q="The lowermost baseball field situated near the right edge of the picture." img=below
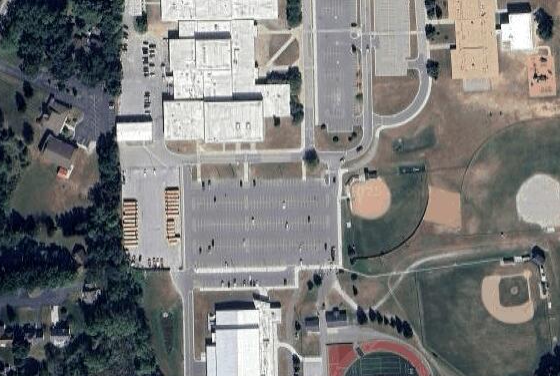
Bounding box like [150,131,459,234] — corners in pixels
[482,269,534,324]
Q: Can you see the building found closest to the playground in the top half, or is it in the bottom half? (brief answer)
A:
top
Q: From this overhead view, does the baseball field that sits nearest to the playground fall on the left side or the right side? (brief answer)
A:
right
